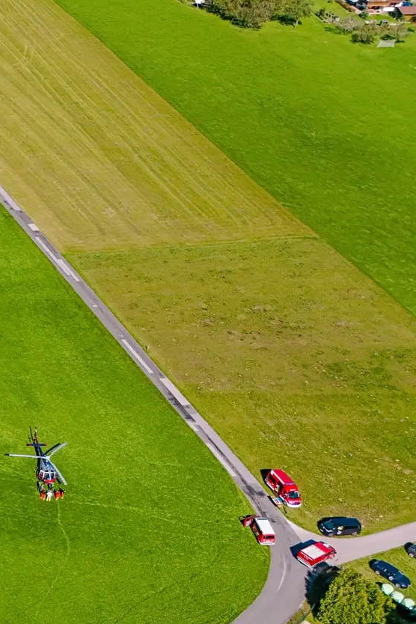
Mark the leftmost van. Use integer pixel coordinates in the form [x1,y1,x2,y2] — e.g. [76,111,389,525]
[238,513,279,550]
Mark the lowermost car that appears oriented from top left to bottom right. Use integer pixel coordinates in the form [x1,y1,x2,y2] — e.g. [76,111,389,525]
[371,557,412,588]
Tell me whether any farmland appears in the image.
Yes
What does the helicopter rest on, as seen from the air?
grass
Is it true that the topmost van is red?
Yes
